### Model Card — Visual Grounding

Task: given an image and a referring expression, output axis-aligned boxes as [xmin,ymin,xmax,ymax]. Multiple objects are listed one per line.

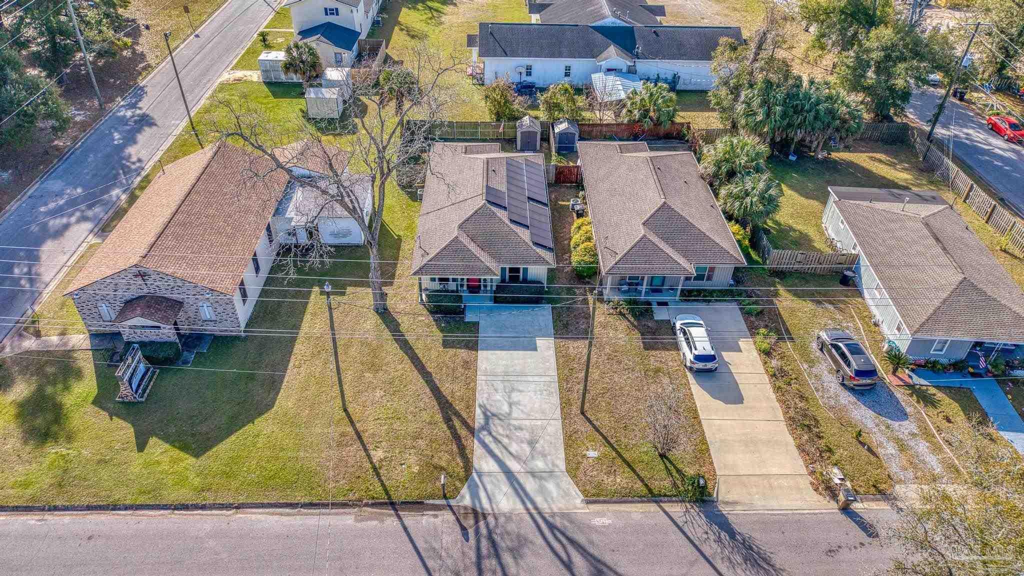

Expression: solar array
[485,160,553,251]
